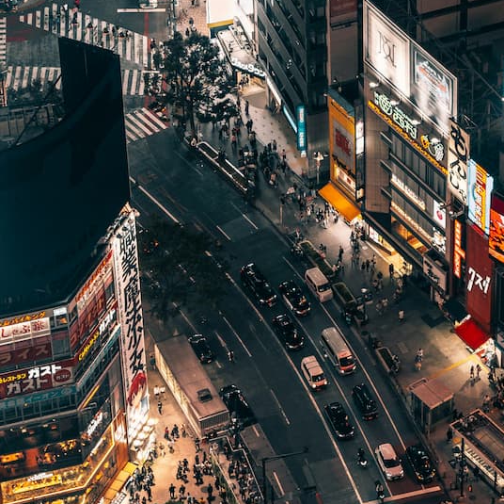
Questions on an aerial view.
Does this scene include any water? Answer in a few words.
No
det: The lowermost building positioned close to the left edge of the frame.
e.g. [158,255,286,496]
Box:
[0,199,170,504]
